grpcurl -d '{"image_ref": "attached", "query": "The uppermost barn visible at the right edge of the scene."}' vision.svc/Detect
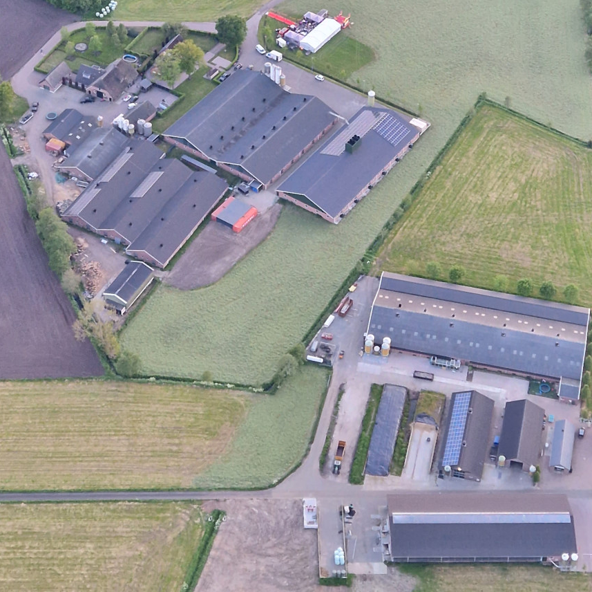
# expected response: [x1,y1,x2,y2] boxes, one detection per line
[364,270,592,381]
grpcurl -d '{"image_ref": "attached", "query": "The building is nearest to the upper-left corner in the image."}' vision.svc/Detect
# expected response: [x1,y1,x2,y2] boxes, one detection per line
[37,59,75,94]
